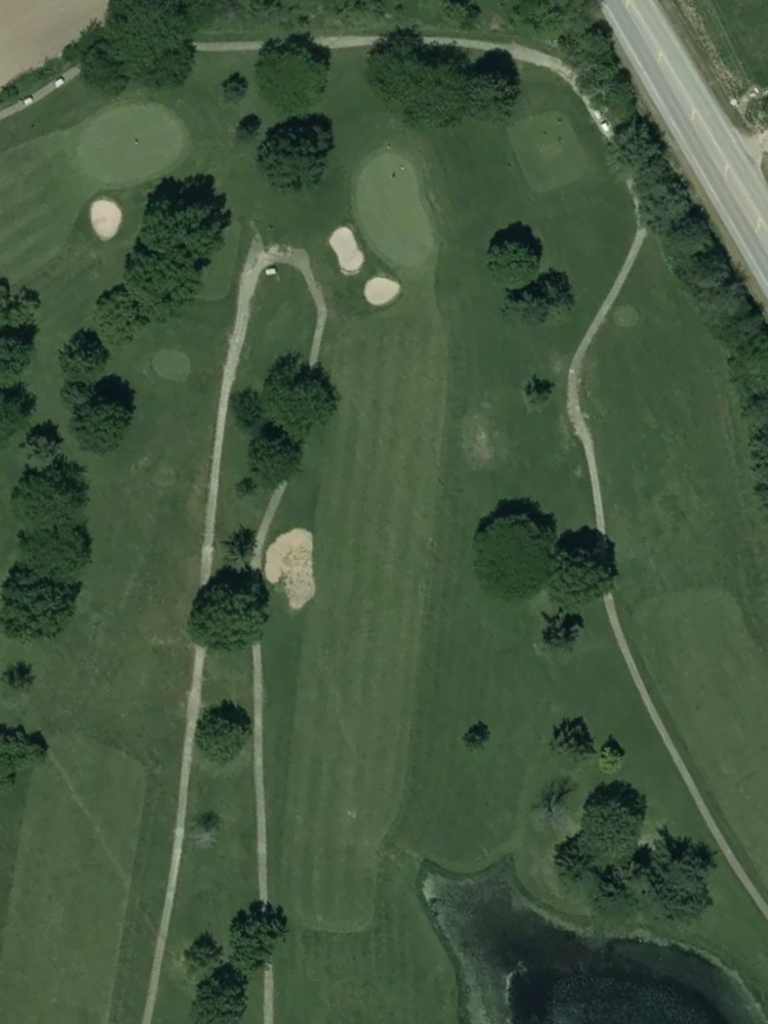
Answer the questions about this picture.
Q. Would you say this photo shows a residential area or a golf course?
golf course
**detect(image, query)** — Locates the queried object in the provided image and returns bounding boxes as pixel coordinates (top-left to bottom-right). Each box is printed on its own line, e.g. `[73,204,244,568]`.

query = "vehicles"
[22,96,35,107]
[600,121,610,134]
[53,77,67,88]
[265,268,278,276]
[592,109,603,122]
